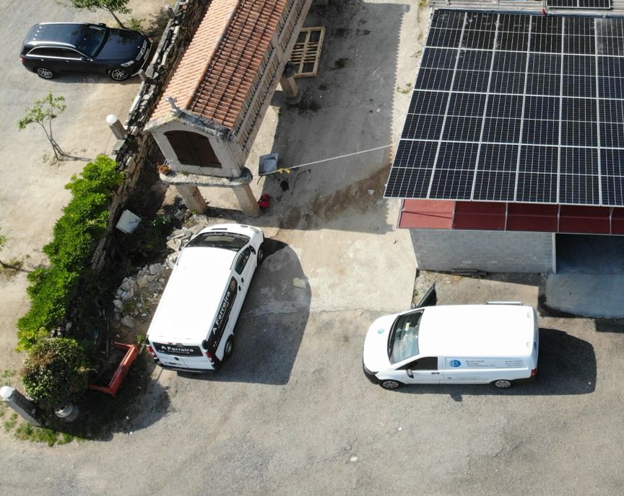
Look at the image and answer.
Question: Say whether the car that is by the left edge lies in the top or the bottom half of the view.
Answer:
top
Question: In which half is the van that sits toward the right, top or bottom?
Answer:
bottom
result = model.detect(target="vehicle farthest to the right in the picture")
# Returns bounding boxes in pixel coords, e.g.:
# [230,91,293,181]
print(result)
[357,283,539,390]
